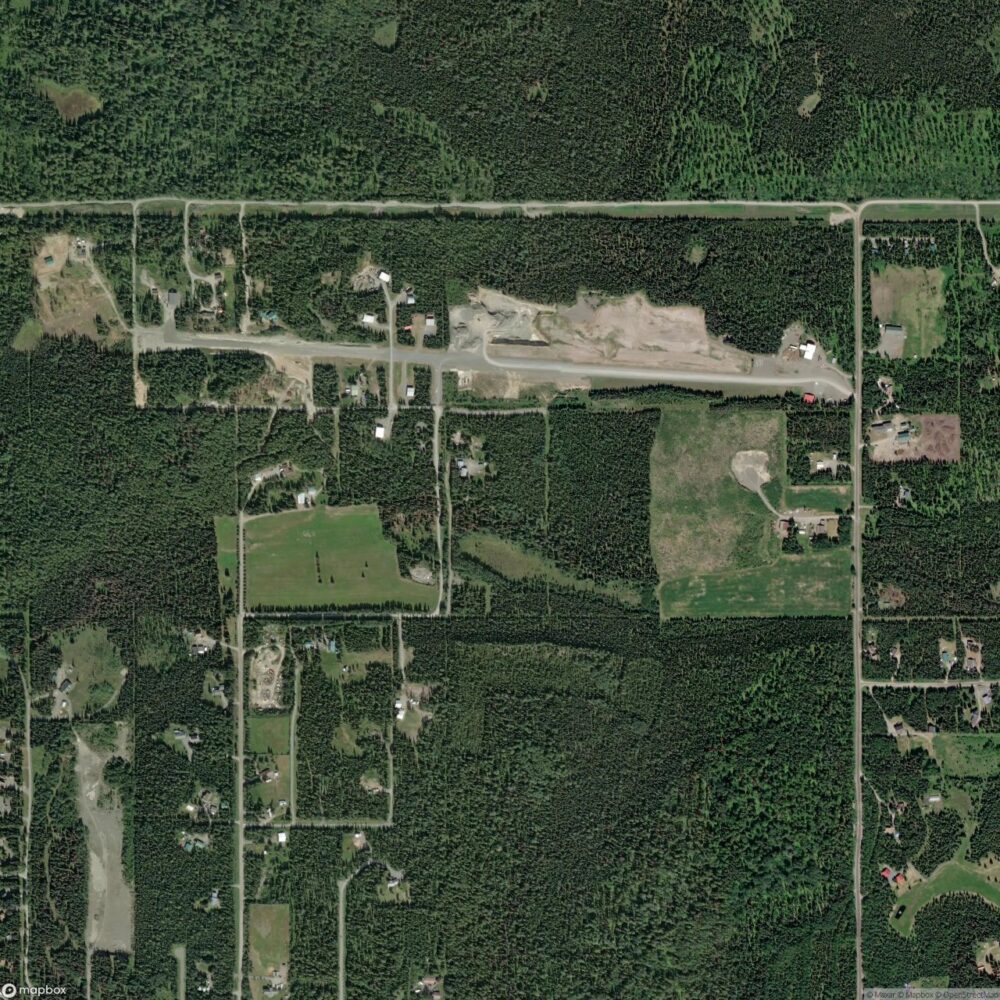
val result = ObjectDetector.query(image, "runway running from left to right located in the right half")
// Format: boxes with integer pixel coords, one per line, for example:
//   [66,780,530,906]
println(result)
[492,360,815,384]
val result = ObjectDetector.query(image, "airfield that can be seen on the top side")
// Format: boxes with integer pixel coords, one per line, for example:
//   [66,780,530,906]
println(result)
[133,303,857,408]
